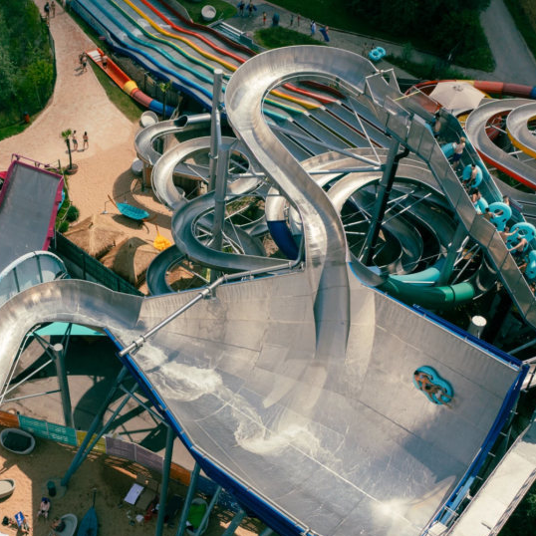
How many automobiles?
0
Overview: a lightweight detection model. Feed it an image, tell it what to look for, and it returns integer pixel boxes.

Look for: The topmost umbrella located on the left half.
[62,214,128,258]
